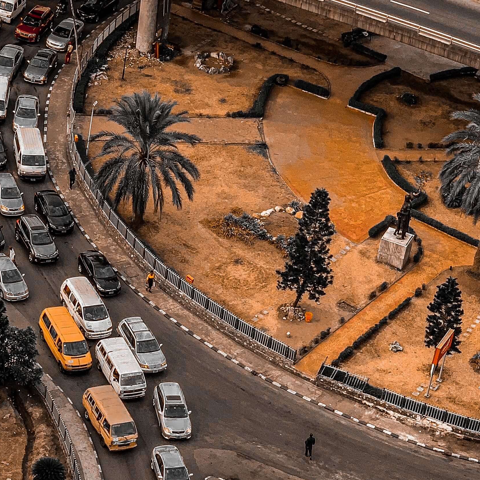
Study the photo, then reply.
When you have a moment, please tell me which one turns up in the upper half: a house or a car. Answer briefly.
car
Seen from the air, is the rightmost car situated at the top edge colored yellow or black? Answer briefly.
black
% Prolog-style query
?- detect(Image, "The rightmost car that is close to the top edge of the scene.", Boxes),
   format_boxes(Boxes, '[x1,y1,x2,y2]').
[80,0,123,24]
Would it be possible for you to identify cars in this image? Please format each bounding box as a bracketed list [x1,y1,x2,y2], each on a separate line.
[0,129,10,170]
[80,0,123,24]
[0,251,24,302]
[114,315,166,374]
[12,212,60,265]
[75,248,123,299]
[147,442,196,480]
[34,189,76,234]
[147,379,194,442]
[0,42,27,79]
[0,16,10,35]
[46,18,89,51]
[10,94,41,130]
[16,3,57,43]
[25,49,62,85]
[0,172,26,216]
